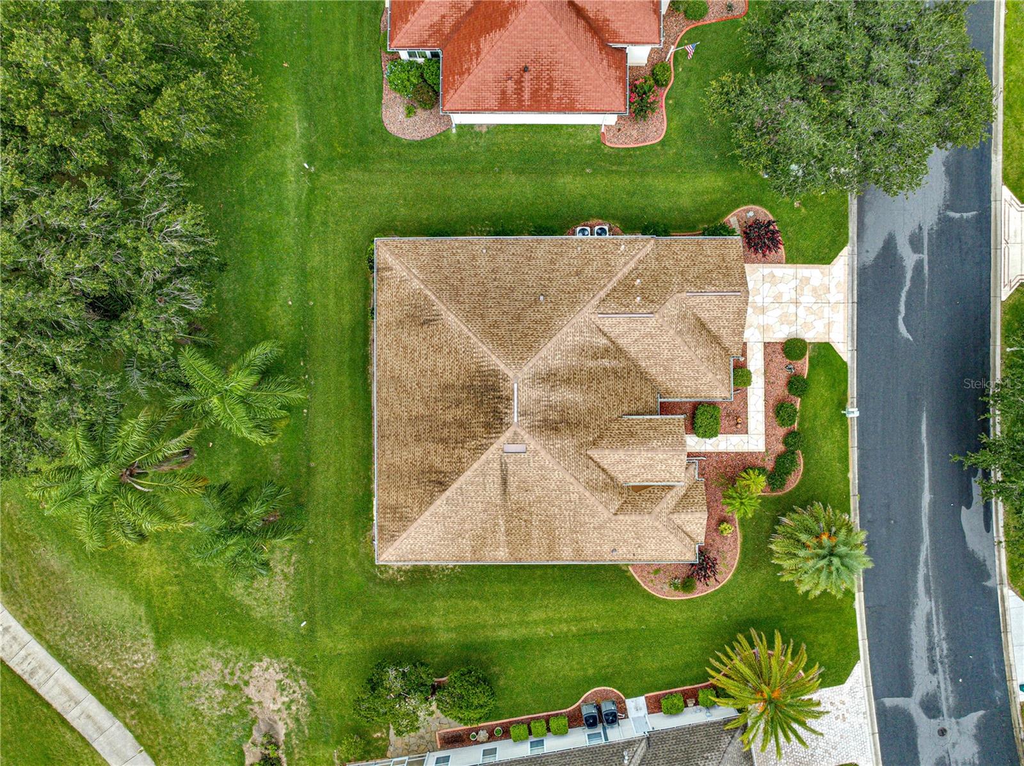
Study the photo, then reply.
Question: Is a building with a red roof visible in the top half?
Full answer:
Yes, a building with a red roof appears in the top half.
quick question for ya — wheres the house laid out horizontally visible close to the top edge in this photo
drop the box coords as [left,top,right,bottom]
[387,0,663,134]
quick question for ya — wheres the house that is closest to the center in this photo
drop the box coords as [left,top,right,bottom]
[374,236,751,565]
